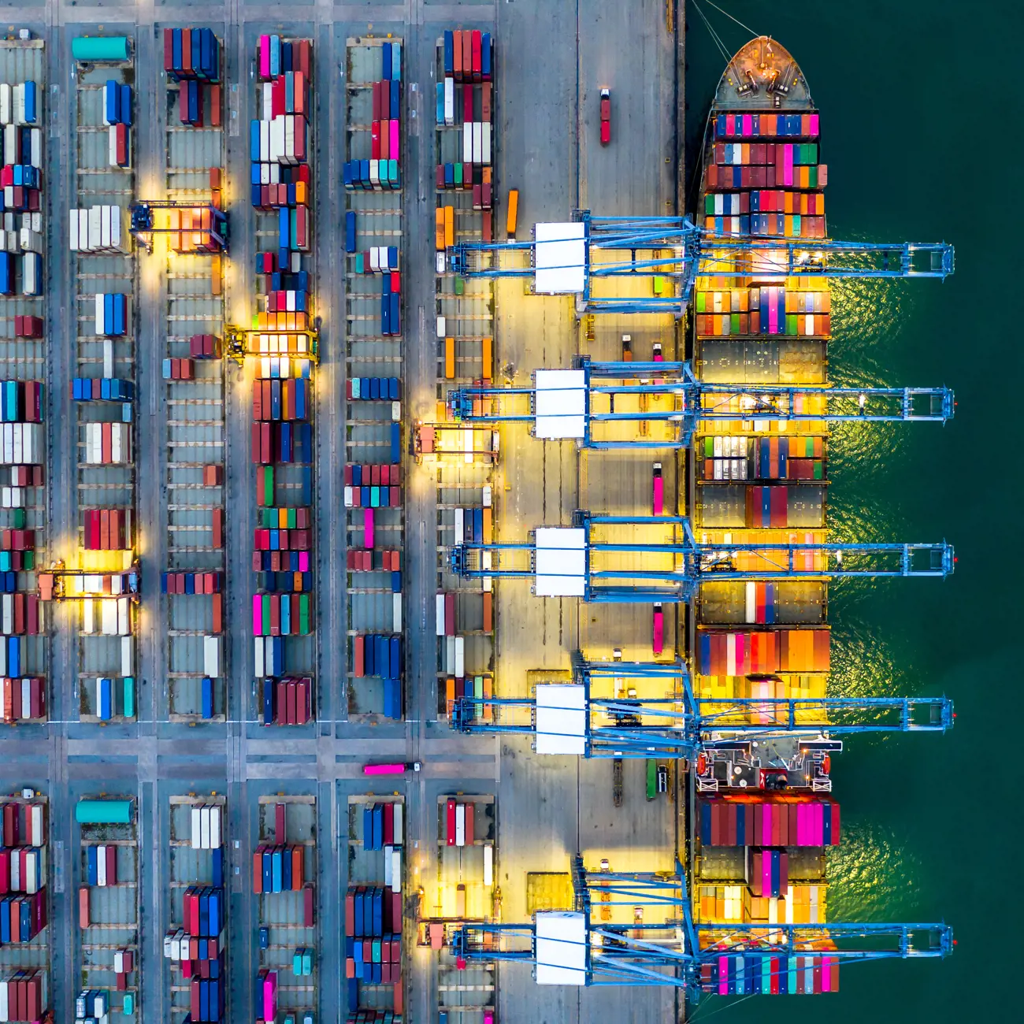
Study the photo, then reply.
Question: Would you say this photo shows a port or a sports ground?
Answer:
port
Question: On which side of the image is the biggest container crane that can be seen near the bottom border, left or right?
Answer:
right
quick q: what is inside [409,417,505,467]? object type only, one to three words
crane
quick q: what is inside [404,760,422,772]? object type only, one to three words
vehicle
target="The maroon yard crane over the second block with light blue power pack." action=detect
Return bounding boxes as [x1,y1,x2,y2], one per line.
[32,556,146,606]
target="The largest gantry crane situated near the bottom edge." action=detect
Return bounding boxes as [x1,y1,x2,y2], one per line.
[451,847,958,991]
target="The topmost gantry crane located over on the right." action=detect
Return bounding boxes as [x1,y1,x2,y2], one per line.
[450,202,961,336]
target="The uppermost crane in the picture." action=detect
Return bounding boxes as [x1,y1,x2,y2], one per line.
[123,198,234,257]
